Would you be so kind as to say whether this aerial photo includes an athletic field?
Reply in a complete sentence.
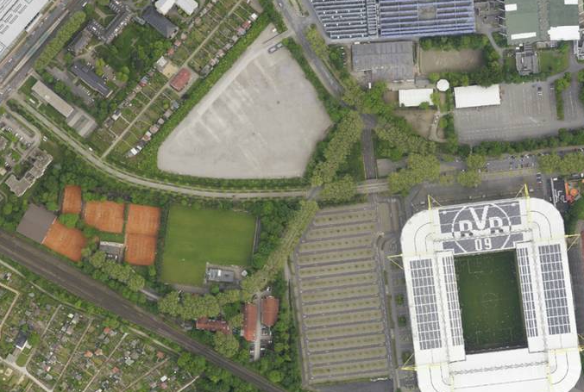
Yes, there is an athletic field in the image.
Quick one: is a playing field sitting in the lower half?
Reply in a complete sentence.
Yes, the scene does show a playing field in the lower half.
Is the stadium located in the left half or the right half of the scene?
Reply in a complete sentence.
It is on the right.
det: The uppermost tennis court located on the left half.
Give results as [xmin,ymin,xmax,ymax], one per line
[62,185,81,212]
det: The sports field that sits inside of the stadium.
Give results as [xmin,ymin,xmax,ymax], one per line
[453,248,527,351]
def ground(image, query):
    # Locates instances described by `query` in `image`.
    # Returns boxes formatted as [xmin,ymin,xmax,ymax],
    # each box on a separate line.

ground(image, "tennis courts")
[126,205,159,236]
[62,185,81,212]
[124,236,157,265]
[84,201,124,233]
[42,219,86,260]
